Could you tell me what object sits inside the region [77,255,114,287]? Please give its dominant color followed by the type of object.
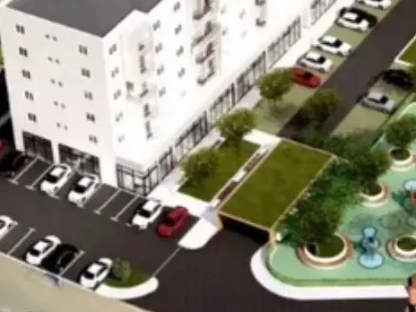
white car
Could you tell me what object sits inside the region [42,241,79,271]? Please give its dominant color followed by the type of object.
black car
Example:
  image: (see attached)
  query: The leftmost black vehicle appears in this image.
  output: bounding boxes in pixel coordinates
[0,148,28,176]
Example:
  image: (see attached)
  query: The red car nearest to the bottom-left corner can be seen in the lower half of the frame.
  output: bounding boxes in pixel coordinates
[158,207,190,235]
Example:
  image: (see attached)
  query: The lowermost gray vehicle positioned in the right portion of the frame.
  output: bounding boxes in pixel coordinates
[361,89,399,112]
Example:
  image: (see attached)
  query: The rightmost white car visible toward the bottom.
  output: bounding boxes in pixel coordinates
[129,198,165,227]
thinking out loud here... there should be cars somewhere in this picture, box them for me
[77,255,114,287]
[314,35,352,55]
[129,198,165,227]
[378,67,416,89]
[158,207,190,235]
[0,148,28,176]
[297,51,335,72]
[66,174,101,202]
[24,233,60,263]
[0,214,12,234]
[361,89,399,112]
[287,67,324,88]
[359,0,391,9]
[37,164,72,192]
[336,9,373,29]
[42,241,79,271]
